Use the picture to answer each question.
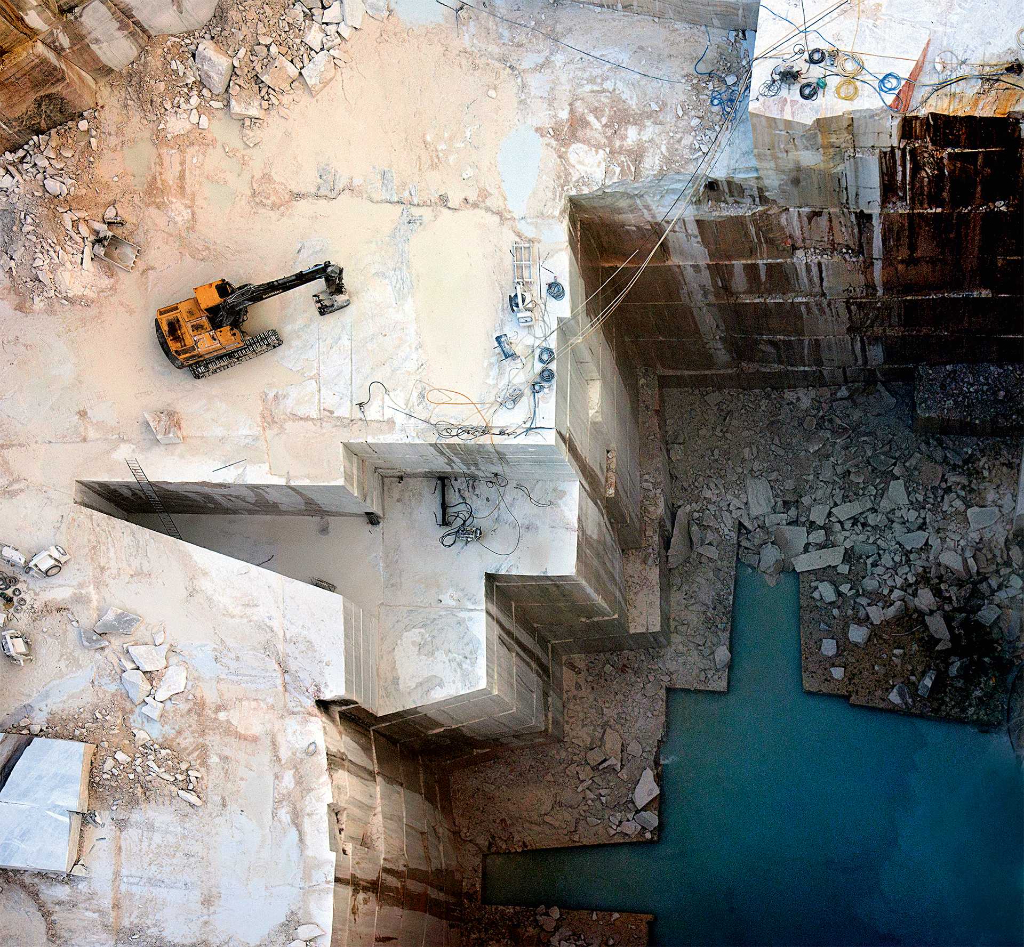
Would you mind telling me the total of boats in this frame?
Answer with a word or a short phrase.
zero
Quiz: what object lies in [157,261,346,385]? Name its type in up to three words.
work vehicle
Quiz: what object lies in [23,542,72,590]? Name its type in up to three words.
trailer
